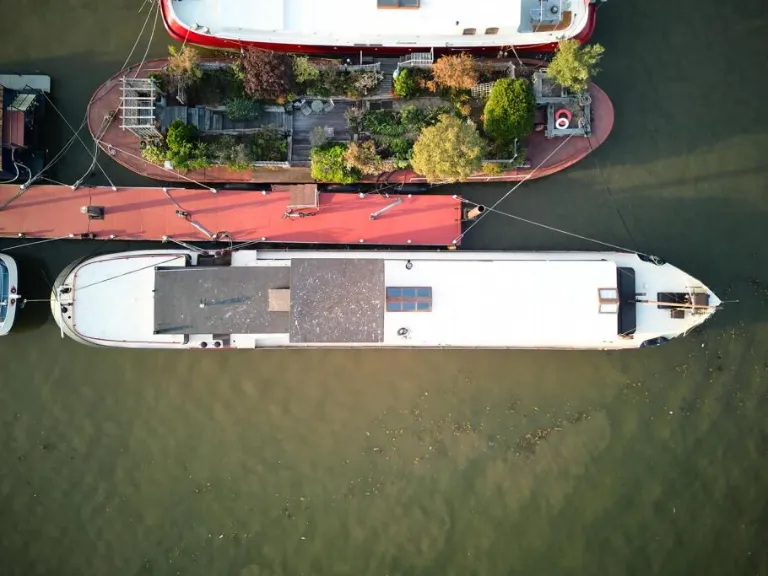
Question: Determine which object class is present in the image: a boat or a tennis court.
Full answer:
This aerial view contains a boat.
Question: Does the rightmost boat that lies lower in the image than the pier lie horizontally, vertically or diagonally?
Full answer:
What the image shows is the rightmost boat that lies lower in the image than the pier lying horizontally.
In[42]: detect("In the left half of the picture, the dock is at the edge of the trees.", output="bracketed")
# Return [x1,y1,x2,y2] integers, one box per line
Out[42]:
[0,184,474,246]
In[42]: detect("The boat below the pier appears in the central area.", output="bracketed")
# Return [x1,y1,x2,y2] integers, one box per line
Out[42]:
[50,248,739,351]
